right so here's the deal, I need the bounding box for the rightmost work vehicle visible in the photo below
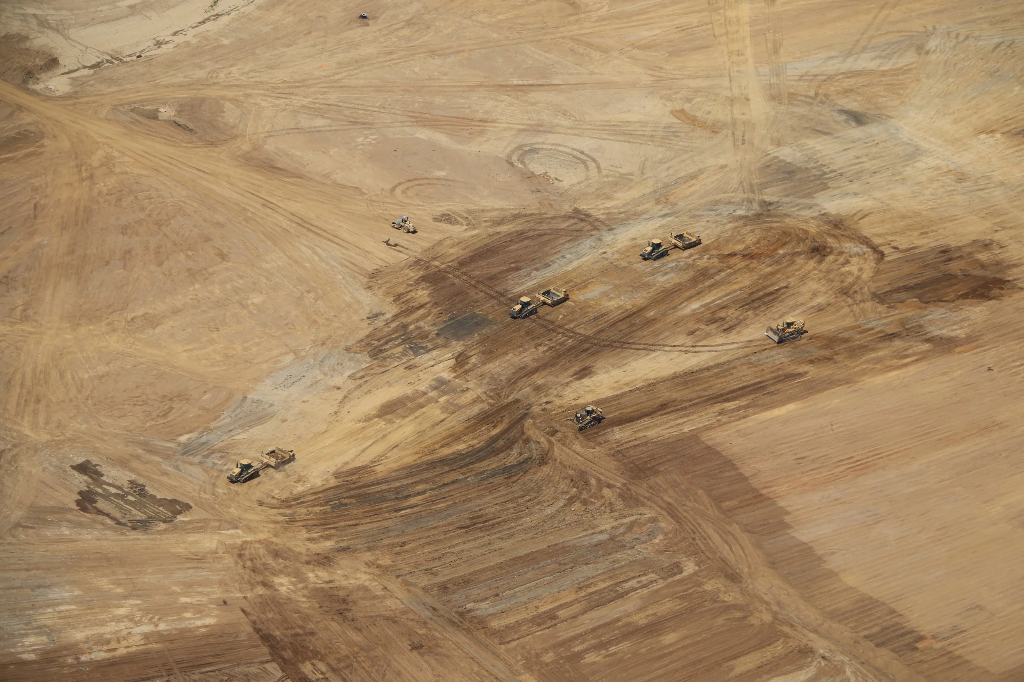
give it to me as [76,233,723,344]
[765,318,804,345]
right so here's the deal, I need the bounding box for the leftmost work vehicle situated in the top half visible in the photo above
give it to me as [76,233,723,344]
[391,215,415,233]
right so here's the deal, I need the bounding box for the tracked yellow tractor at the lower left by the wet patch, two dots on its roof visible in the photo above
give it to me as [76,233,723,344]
[228,458,260,483]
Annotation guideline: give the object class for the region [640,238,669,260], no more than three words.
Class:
work vehicle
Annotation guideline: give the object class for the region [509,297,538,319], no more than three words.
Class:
work vehicle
